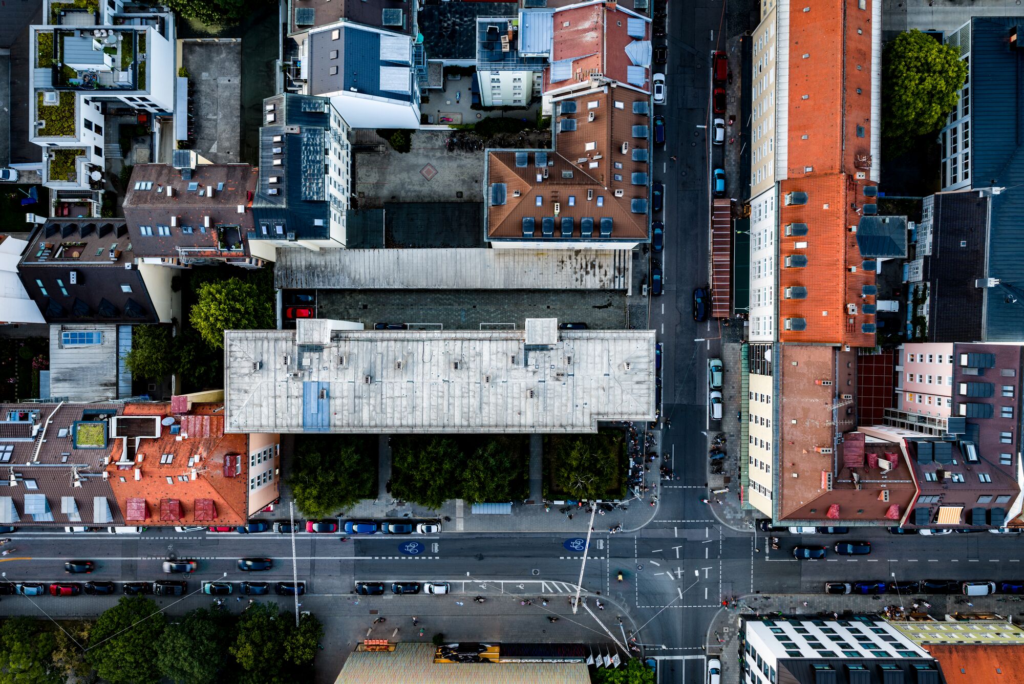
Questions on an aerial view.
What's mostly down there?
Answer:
buildings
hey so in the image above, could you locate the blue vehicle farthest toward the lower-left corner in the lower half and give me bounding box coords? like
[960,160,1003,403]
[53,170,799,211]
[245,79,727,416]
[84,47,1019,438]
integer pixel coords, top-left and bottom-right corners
[19,582,45,597]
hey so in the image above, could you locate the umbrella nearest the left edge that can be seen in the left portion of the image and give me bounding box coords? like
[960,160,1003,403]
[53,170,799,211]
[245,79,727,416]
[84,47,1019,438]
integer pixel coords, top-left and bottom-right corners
[23,188,41,207]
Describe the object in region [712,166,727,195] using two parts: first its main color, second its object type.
blue car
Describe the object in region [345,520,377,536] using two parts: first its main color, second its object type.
blue car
